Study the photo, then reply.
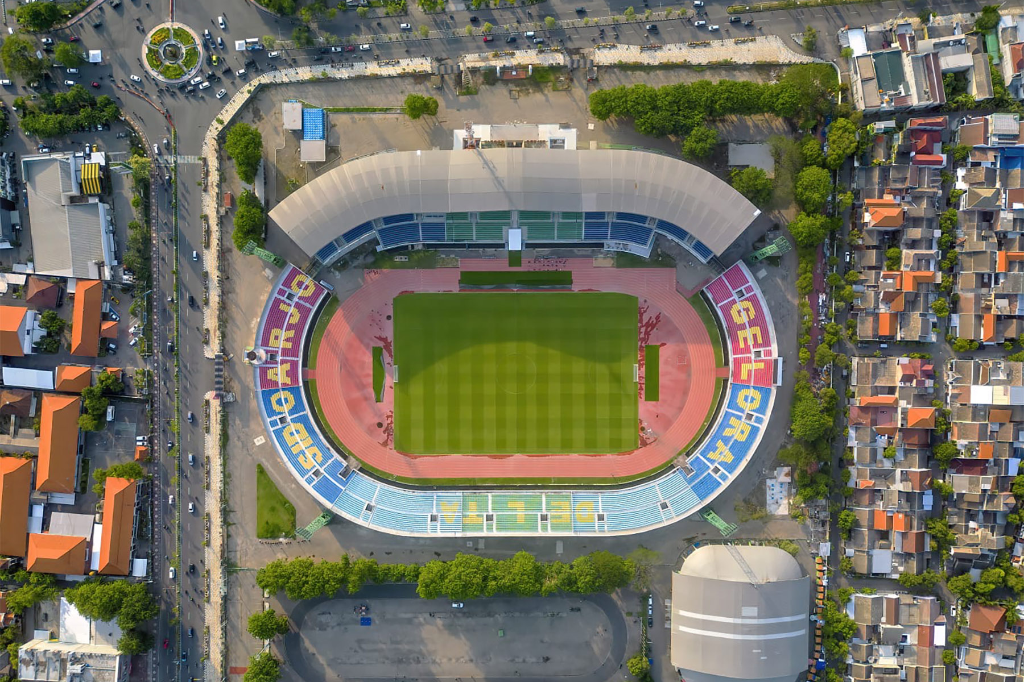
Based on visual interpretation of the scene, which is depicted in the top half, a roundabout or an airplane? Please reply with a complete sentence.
The one visible in the top half is a roundabout.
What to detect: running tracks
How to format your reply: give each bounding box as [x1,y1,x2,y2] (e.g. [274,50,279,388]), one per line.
[309,259,722,478]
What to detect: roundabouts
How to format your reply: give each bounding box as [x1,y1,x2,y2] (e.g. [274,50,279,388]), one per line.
[142,22,203,83]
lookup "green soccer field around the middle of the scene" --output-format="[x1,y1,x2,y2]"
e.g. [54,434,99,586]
[394,292,638,454]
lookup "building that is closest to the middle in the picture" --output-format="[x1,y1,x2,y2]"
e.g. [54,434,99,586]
[453,124,576,150]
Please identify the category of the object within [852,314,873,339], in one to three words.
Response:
house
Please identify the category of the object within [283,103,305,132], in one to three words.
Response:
shed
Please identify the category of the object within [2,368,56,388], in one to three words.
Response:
building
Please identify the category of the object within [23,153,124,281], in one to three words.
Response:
building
